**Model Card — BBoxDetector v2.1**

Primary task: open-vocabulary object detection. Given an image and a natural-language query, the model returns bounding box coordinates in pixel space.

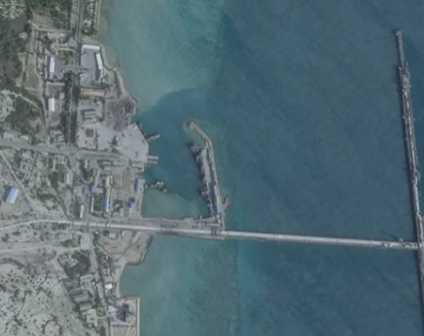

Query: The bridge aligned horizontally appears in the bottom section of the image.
[141,225,415,249]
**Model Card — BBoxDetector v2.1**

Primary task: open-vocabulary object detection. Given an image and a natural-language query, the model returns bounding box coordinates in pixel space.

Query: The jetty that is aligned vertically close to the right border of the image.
[395,30,424,309]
